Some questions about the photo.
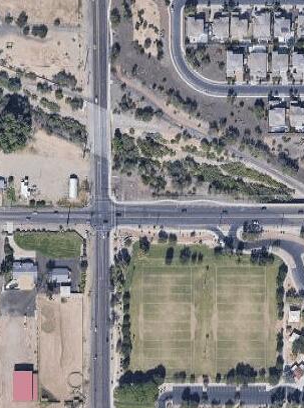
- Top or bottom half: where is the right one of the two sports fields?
bottom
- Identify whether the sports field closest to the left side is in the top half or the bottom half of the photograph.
bottom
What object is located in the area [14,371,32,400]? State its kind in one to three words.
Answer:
barn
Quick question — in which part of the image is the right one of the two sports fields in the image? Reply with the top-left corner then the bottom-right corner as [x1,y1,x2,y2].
[216,265,265,374]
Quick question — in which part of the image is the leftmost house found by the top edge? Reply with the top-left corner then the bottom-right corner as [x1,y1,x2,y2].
[187,14,204,46]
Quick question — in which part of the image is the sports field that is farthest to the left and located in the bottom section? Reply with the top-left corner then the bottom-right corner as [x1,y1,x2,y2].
[143,265,192,374]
